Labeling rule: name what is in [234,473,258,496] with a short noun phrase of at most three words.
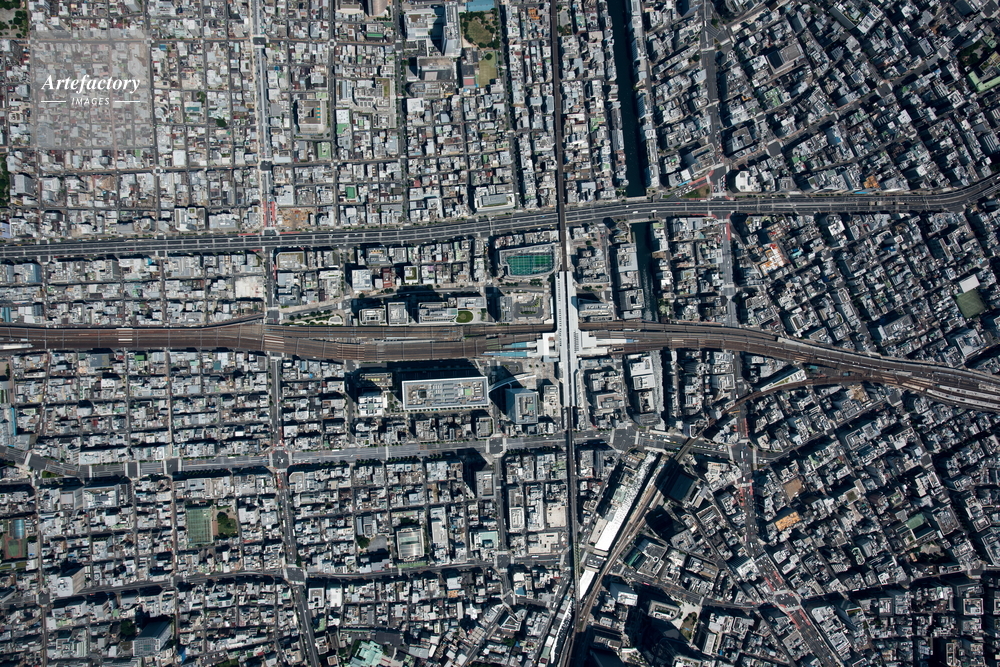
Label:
building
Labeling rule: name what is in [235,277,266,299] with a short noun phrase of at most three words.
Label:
building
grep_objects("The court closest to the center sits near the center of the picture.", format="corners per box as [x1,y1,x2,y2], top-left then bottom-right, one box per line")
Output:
[508,254,553,274]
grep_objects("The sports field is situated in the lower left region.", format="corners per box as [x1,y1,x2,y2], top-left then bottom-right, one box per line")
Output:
[187,505,215,545]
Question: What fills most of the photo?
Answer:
buildings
